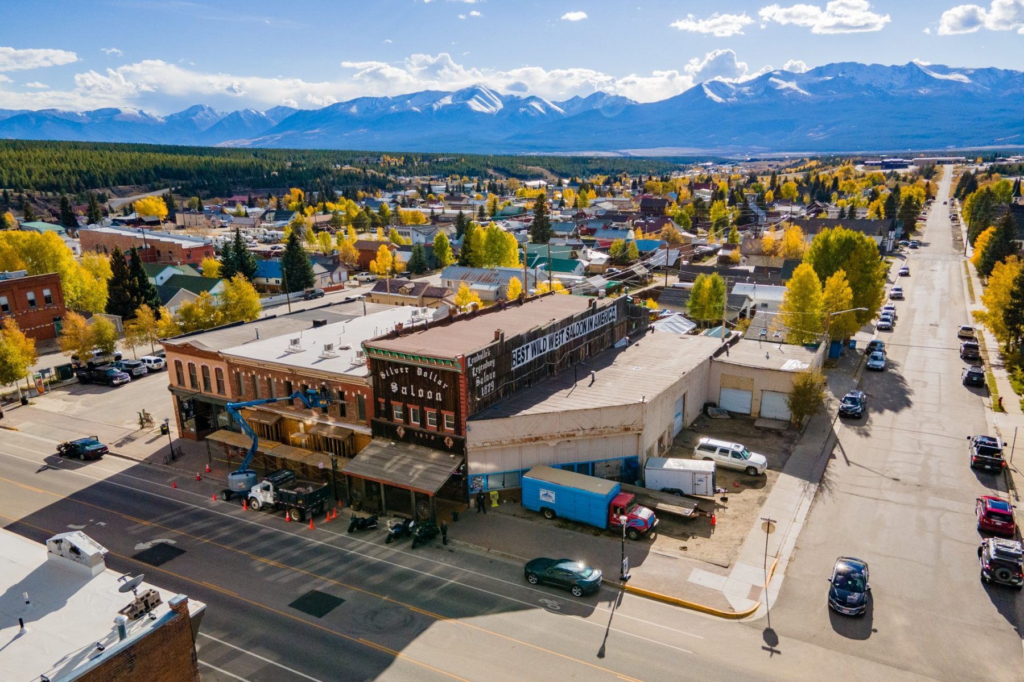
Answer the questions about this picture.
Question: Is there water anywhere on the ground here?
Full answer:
No, no water is visible.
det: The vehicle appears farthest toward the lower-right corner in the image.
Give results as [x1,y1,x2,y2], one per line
[984,535,1024,584]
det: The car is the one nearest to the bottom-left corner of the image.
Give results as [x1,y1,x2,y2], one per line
[53,430,106,460]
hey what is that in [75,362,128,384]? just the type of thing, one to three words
truck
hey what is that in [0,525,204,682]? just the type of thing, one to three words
building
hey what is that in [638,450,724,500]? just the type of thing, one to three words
trailer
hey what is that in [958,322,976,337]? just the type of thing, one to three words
car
